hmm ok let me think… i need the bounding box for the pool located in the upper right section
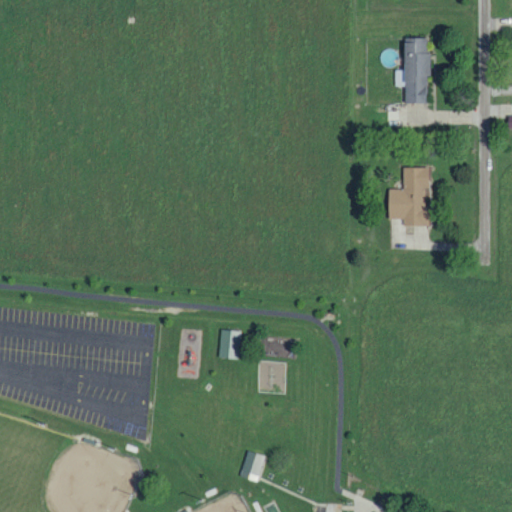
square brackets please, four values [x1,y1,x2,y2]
[380,49,399,68]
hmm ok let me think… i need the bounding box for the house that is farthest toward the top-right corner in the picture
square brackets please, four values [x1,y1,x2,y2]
[405,37,432,103]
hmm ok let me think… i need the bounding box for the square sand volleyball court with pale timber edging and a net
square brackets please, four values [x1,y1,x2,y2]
[258,361,288,394]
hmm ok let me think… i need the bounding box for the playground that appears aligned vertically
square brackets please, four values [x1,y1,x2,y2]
[177,329,203,379]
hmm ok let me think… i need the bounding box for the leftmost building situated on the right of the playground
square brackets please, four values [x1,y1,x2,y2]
[219,330,242,360]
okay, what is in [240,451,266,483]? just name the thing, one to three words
building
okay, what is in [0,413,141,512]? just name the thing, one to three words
baseball field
